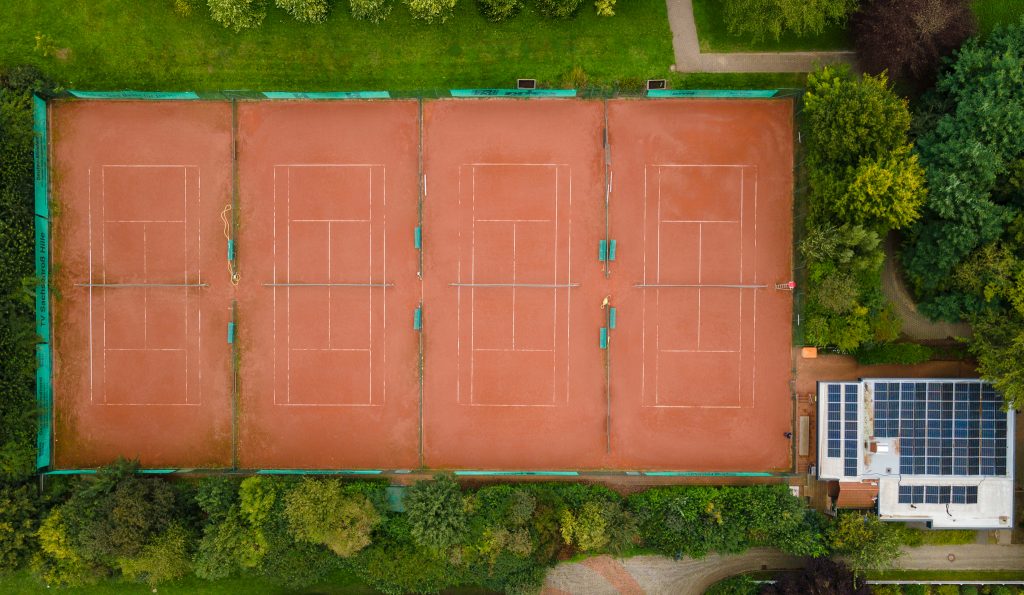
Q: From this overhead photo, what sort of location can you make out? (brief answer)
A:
sports ground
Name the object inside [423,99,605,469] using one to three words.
tennis court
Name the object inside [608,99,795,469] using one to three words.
tennis court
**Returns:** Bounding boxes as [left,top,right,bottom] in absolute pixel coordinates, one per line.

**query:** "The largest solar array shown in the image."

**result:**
[875,383,1006,475]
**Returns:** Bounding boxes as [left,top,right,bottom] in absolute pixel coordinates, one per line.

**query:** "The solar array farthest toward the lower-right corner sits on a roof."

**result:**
[900,486,978,504]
